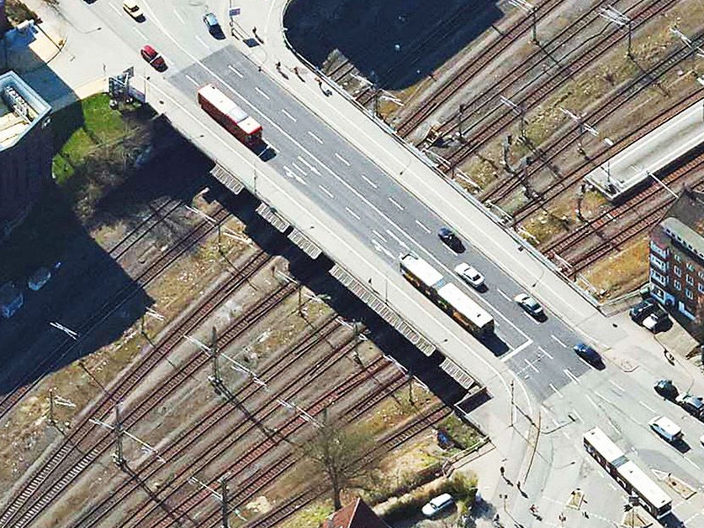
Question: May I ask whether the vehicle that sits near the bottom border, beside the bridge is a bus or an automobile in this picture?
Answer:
bus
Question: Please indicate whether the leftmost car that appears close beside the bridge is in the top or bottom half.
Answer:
top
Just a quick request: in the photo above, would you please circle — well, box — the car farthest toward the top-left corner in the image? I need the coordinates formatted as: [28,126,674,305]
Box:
[121,0,147,20]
